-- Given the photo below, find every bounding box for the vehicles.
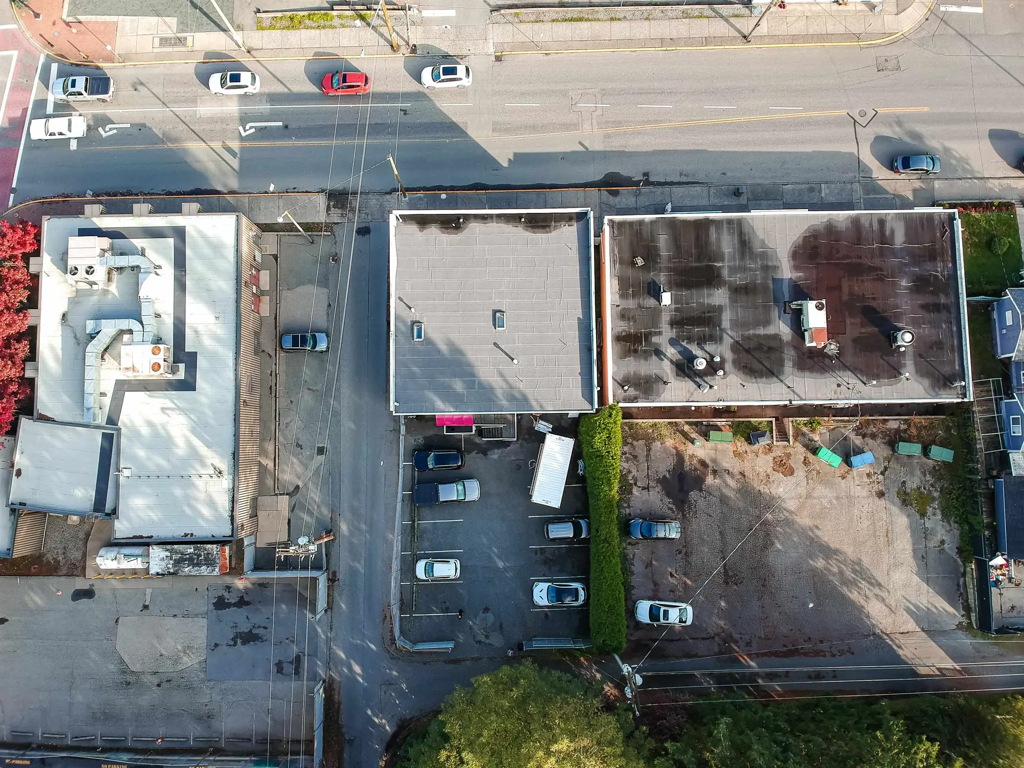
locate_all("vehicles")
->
[280,329,330,354]
[321,69,372,98]
[532,581,586,607]
[421,61,473,90]
[545,516,586,543]
[628,516,681,542]
[414,447,465,473]
[209,69,261,97]
[891,150,941,177]
[51,73,117,102]
[416,557,460,583]
[414,478,481,506]
[634,599,693,626]
[30,116,89,142]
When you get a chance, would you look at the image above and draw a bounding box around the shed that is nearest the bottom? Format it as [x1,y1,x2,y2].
[149,542,236,575]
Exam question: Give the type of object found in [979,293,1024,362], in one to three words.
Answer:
house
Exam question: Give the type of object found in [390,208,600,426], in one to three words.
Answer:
building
